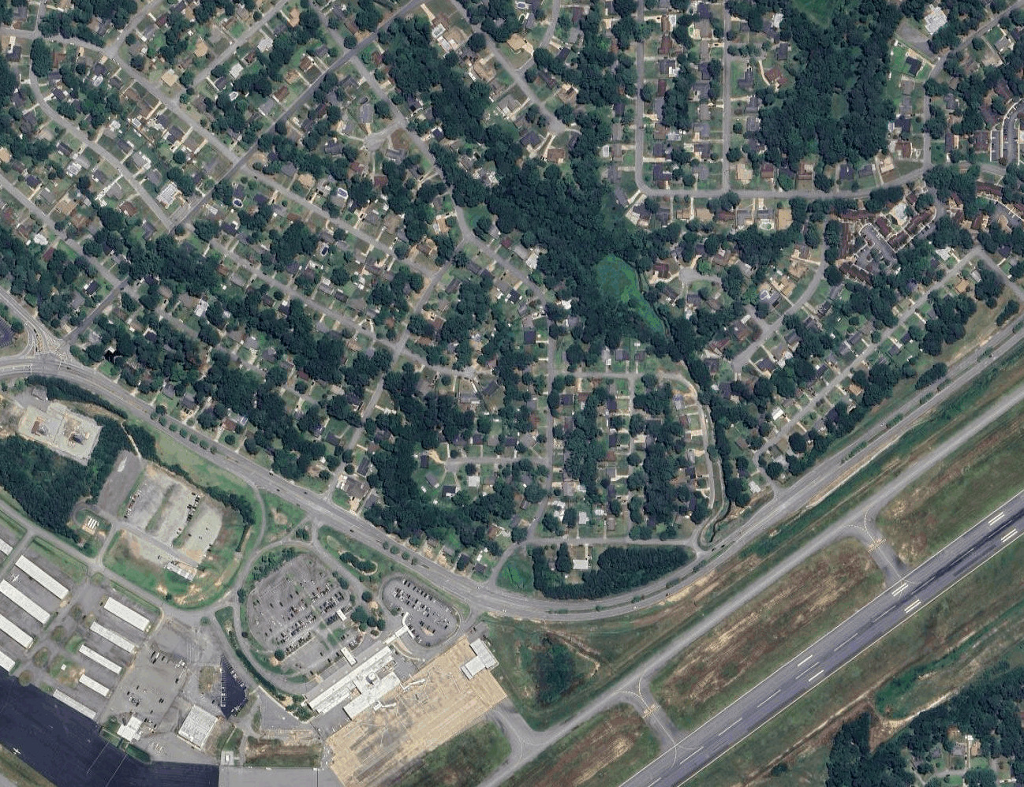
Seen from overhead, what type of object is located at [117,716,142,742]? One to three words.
building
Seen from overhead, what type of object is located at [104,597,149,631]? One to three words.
hangar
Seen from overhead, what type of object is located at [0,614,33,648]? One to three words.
hangar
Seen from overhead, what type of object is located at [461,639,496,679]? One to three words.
building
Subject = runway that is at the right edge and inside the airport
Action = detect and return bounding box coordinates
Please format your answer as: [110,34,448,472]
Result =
[617,487,1024,787]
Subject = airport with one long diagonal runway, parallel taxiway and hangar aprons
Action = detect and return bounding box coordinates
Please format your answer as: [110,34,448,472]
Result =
[0,384,1024,787]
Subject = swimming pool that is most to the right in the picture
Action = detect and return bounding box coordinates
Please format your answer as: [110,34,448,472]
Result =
[893,203,910,223]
